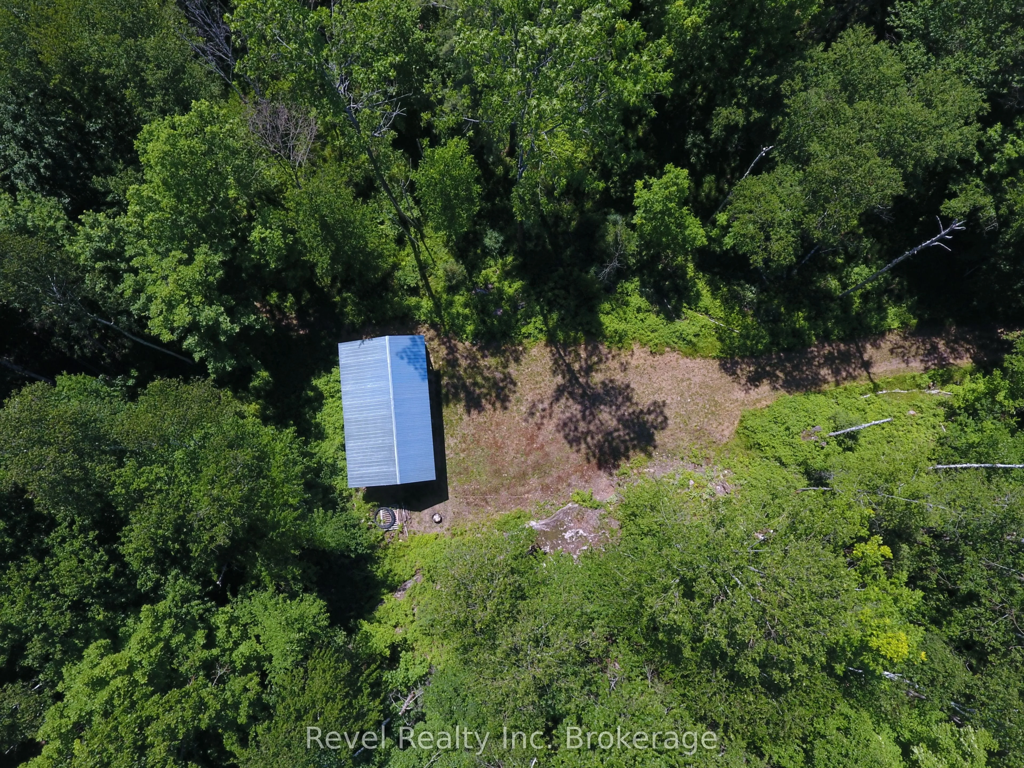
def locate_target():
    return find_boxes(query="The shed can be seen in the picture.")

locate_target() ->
[339,334,437,488]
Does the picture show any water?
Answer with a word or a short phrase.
No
